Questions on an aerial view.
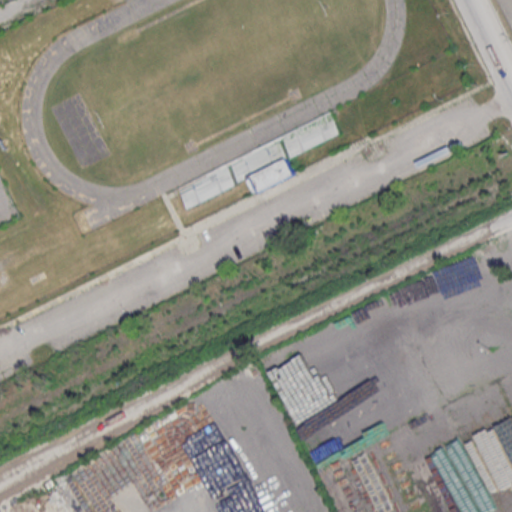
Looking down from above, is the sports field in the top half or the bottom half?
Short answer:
top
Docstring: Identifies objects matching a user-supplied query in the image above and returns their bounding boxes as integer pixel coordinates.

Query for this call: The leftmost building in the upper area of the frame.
[179,164,240,208]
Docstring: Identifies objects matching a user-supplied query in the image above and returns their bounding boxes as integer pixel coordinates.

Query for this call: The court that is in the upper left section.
[52,94,110,168]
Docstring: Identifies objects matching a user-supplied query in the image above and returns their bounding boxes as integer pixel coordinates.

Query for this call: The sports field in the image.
[42,0,384,186]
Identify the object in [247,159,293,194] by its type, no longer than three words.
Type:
building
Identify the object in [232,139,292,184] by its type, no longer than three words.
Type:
building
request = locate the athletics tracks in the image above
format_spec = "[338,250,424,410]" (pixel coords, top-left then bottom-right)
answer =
[20,0,406,230]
